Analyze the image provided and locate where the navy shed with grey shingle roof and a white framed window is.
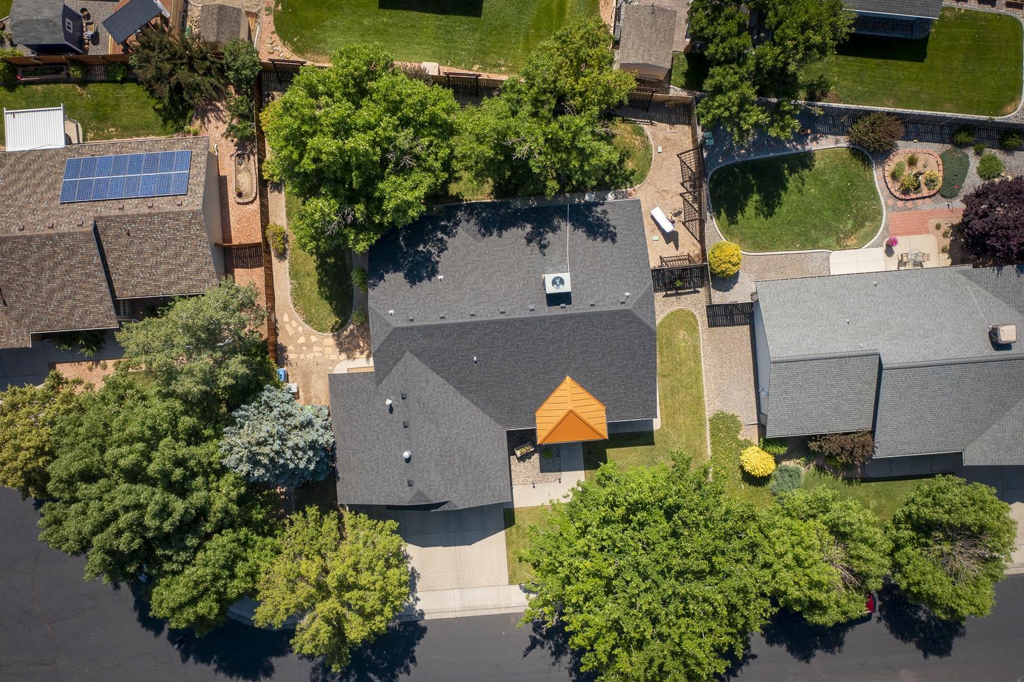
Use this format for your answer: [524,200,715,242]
[8,0,84,54]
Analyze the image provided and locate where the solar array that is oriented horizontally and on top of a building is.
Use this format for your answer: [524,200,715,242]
[60,149,191,201]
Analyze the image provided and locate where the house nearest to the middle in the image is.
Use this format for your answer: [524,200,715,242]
[328,198,657,510]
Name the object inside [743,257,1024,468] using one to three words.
house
